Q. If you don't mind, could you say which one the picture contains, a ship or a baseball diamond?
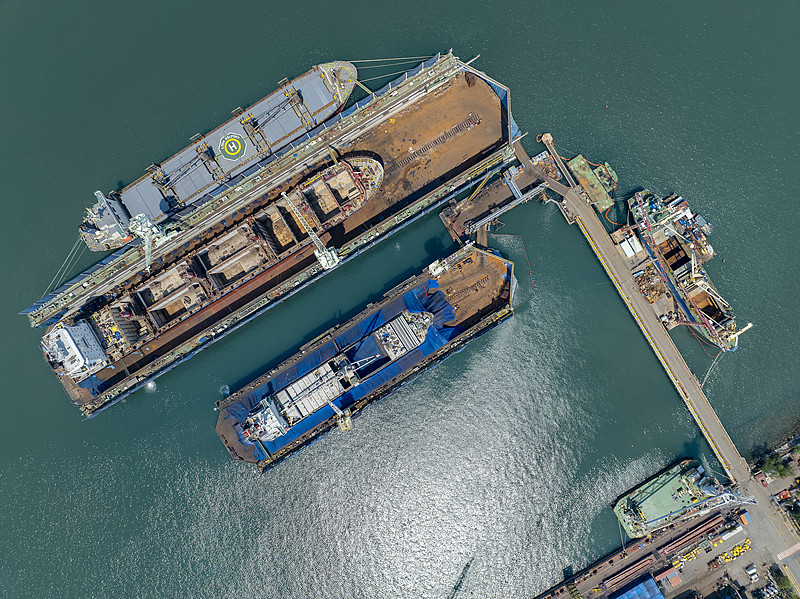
ship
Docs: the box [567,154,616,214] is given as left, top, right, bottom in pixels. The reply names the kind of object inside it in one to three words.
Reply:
ship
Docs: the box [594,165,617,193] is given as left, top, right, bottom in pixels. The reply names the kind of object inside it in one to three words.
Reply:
ship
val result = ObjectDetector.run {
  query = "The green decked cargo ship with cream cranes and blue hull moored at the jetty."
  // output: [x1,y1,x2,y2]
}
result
[625,189,752,356]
